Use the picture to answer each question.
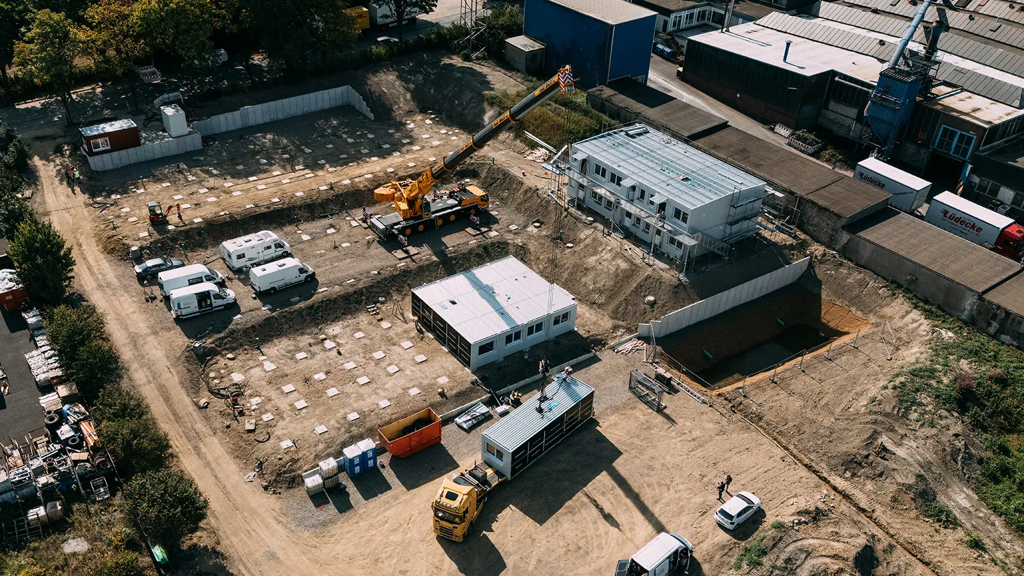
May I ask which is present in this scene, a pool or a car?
car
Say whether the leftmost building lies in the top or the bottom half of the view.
top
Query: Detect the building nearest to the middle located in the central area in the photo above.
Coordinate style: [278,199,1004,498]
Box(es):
[408,257,577,375]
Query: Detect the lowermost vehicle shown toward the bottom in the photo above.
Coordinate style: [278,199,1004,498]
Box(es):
[614,530,692,576]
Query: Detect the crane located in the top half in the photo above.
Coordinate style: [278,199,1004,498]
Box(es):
[364,63,572,249]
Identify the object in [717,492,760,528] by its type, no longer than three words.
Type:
car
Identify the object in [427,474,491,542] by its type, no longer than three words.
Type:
truck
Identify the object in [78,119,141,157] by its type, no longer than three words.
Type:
building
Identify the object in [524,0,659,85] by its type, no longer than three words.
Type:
building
